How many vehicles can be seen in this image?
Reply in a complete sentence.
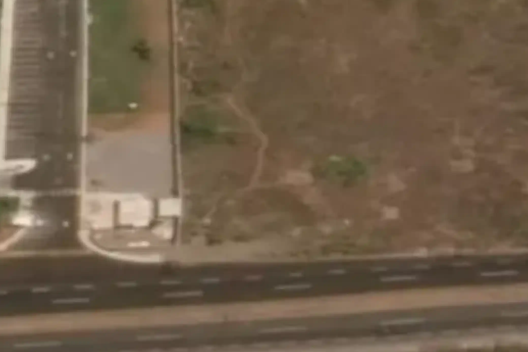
I count no vehicles.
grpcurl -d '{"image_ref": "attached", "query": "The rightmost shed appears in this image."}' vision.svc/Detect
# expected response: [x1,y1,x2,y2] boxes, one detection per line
[159,199,181,223]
